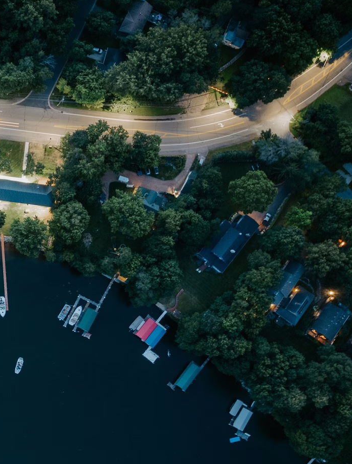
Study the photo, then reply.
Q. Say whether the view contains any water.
Yes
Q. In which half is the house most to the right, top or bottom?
bottom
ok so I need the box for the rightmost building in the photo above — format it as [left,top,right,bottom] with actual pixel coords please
[304,302,350,345]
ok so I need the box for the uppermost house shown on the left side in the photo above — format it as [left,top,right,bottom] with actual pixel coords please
[114,0,167,43]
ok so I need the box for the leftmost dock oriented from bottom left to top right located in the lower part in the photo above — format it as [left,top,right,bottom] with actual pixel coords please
[64,273,119,339]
